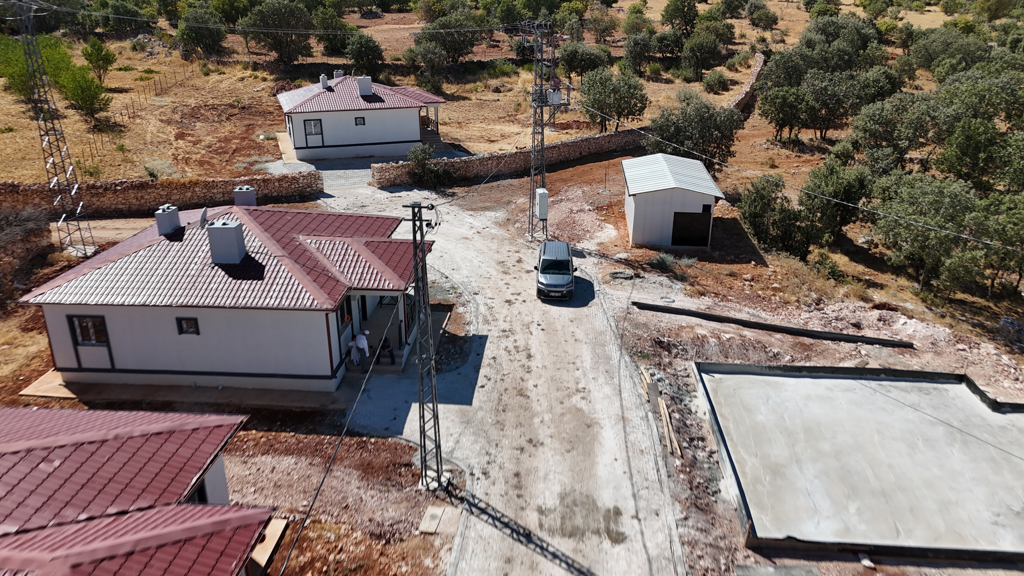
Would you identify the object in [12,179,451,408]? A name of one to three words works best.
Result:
house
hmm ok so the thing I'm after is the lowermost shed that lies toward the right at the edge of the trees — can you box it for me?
[616,152,728,248]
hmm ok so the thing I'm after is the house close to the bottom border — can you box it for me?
[0,408,281,576]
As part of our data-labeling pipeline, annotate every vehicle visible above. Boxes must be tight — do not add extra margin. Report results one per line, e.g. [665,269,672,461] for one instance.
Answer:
[533,241,579,298]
